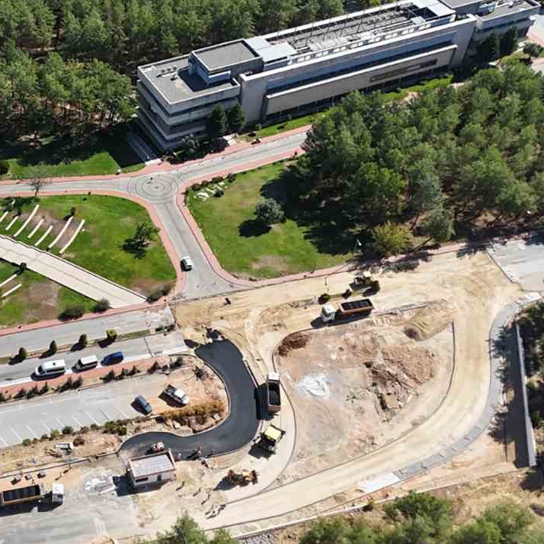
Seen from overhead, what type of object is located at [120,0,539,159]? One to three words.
building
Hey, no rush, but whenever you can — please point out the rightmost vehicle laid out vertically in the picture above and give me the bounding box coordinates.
[264,369,284,419]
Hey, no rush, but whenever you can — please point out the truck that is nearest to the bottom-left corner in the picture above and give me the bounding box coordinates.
[0,479,66,514]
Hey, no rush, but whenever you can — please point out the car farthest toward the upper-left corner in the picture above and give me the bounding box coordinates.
[180,256,193,272]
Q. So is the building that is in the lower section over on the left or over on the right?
left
